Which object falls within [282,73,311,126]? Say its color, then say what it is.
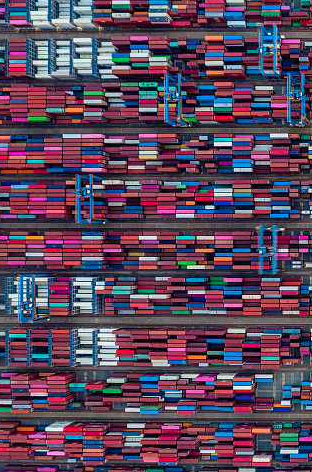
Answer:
blue crane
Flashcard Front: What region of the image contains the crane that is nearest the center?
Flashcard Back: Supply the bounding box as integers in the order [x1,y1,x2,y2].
[69,173,109,222]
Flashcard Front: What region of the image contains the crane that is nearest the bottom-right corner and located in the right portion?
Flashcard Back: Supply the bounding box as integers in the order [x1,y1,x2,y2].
[253,227,284,275]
